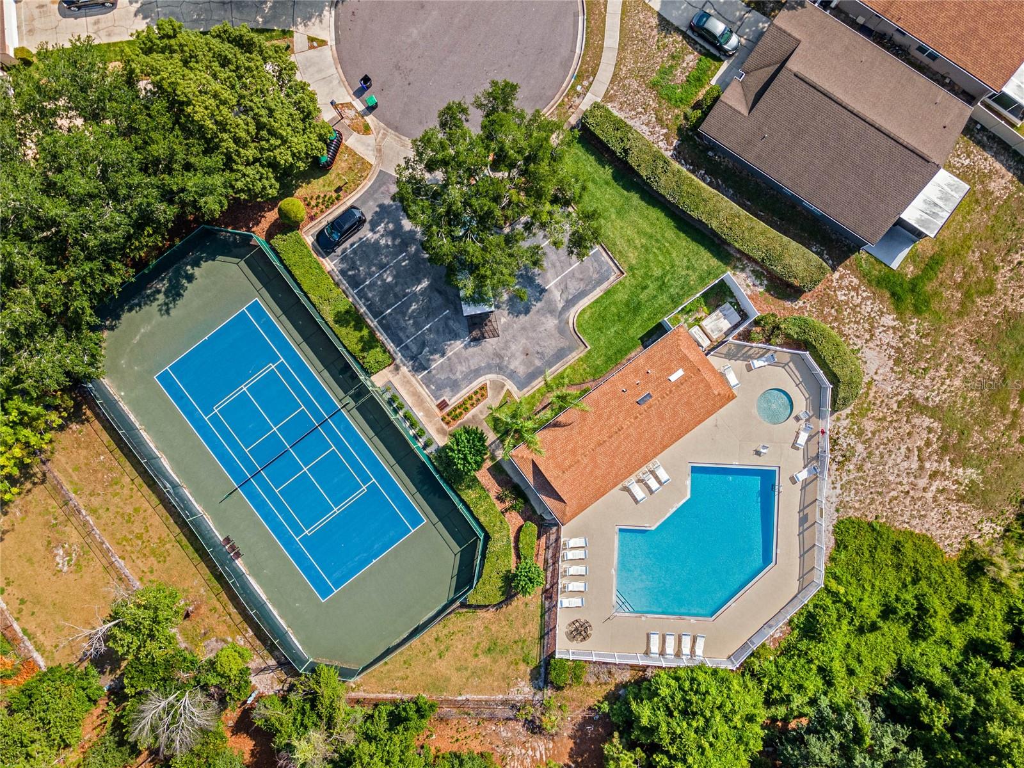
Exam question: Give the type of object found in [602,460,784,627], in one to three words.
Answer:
swimming pool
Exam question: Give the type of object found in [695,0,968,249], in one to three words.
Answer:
house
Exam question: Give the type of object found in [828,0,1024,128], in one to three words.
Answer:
house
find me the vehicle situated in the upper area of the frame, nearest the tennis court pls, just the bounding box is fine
[316,206,366,251]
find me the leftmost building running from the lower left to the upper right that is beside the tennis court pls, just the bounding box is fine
[510,325,735,526]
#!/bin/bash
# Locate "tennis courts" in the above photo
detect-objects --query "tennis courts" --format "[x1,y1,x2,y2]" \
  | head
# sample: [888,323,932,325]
[101,235,484,664]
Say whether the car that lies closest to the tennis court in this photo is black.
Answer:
Yes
